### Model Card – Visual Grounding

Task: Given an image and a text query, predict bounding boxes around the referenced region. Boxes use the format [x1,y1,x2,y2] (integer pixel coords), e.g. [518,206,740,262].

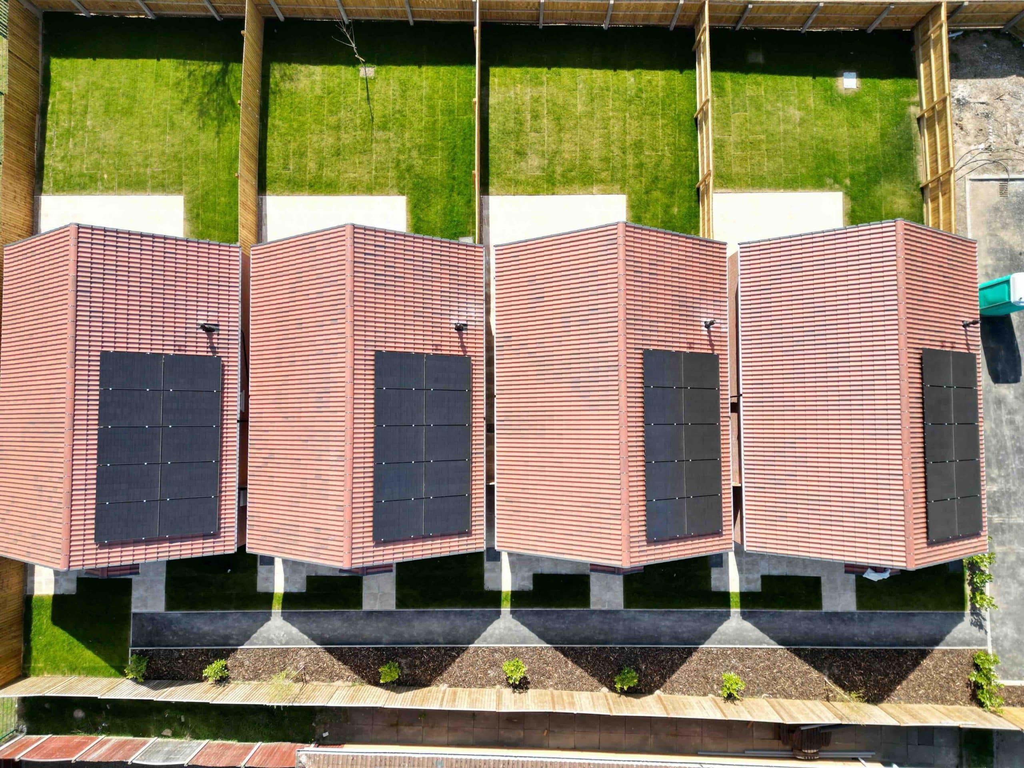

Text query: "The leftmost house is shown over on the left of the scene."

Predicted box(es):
[0,223,250,578]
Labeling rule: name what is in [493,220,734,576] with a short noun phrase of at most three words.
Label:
house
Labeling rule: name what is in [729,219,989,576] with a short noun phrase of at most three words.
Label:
house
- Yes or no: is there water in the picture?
No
